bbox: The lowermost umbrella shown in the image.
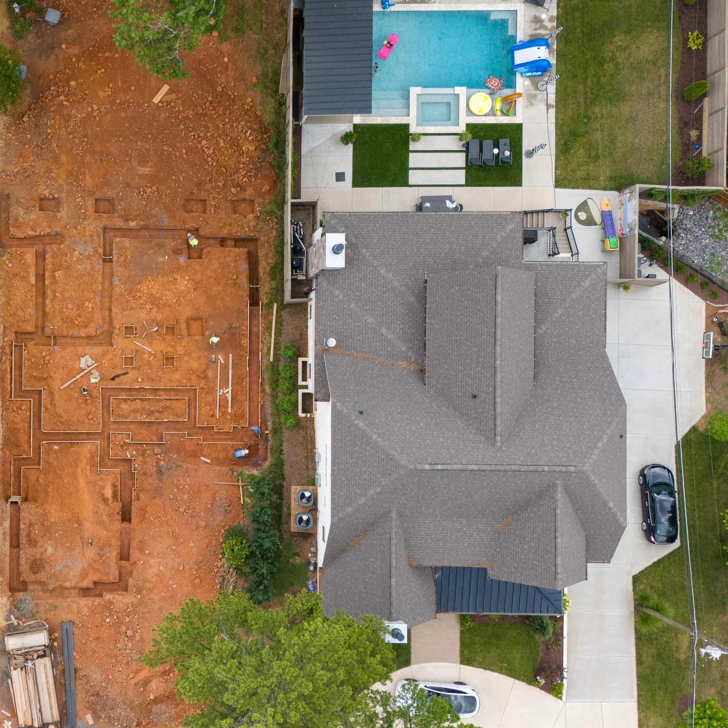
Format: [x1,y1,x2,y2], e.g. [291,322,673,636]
[524,142,550,158]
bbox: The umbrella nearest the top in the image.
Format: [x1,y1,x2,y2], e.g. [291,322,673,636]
[543,21,570,42]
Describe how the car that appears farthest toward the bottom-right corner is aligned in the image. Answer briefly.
from top to bottom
